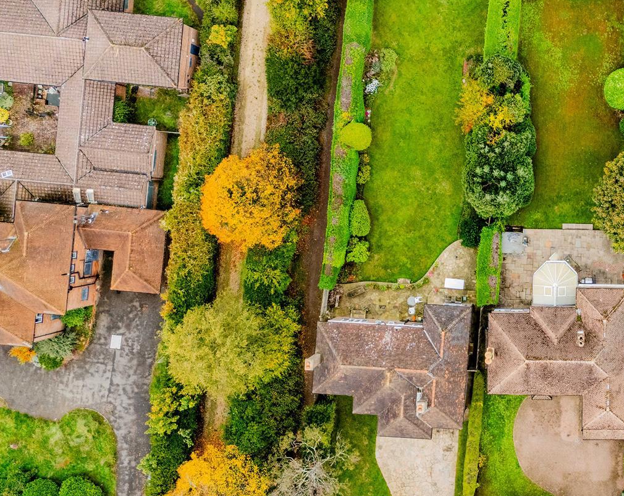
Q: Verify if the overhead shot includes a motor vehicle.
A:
No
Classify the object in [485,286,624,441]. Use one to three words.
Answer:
house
